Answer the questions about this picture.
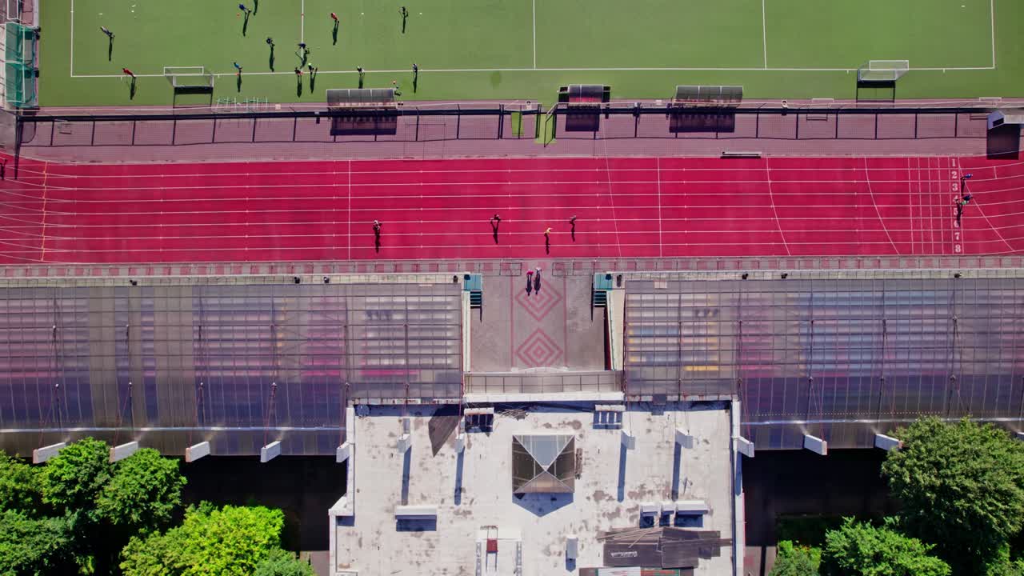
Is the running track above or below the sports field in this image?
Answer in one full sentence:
It's below the sports field that the running track shows up.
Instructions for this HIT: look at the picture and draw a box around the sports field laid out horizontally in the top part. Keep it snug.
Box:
[34,0,1024,107]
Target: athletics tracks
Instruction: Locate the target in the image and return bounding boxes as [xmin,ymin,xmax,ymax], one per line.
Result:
[0,144,1024,265]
